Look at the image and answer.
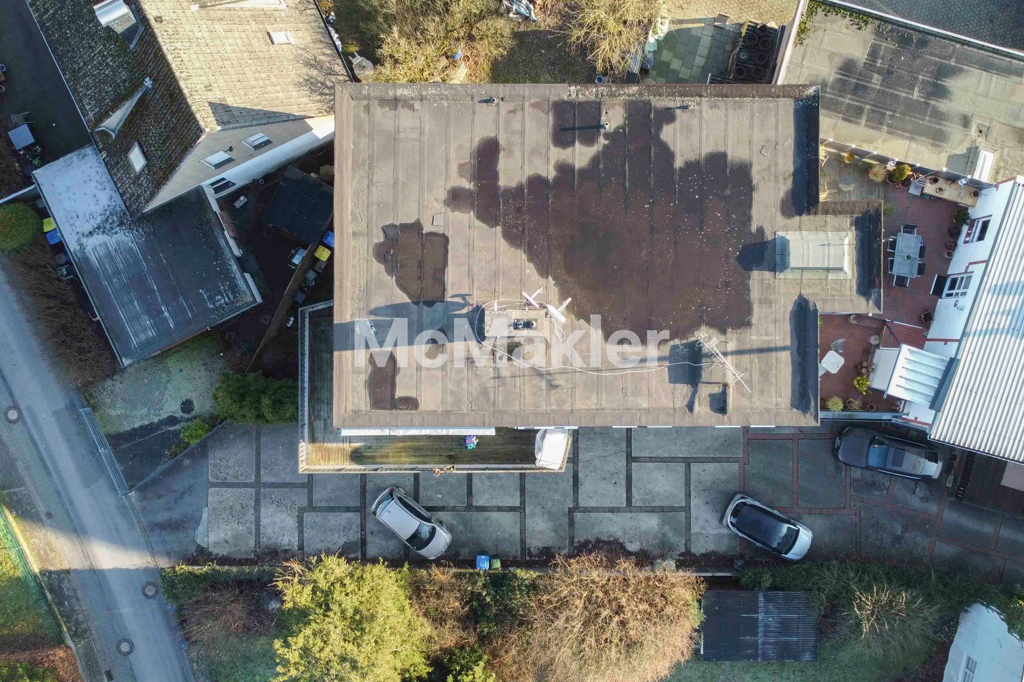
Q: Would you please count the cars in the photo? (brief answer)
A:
3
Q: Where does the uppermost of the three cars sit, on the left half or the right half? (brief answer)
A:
right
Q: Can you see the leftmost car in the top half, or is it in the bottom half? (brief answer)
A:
bottom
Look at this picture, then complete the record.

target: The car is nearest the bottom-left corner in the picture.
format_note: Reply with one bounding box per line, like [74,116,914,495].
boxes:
[369,482,454,562]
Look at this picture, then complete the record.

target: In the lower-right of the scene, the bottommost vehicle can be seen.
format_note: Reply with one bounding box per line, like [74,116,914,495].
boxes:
[718,490,813,563]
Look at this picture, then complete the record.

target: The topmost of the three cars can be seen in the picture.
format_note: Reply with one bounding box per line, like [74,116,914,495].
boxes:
[829,426,946,485]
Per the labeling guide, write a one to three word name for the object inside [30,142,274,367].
building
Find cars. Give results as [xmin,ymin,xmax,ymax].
[369,482,454,562]
[829,426,946,485]
[718,490,813,563]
